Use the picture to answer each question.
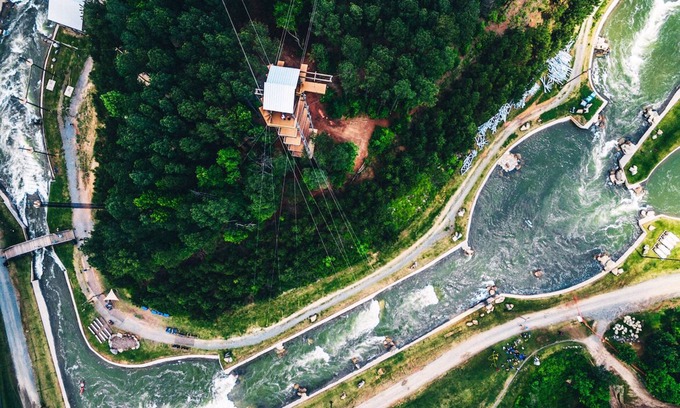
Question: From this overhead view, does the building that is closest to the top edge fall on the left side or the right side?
left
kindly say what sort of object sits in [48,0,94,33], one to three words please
building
